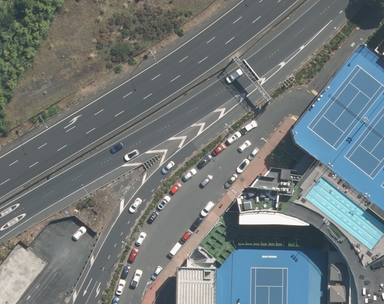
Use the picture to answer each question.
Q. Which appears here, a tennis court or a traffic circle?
tennis court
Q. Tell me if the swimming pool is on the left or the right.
right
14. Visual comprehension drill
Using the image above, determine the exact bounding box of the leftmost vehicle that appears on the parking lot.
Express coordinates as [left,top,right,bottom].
[72,226,87,240]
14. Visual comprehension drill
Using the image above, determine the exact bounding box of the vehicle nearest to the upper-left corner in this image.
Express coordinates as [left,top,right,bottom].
[109,141,125,154]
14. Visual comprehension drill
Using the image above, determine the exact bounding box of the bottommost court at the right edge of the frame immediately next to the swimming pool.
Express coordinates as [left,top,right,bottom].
[344,108,384,180]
